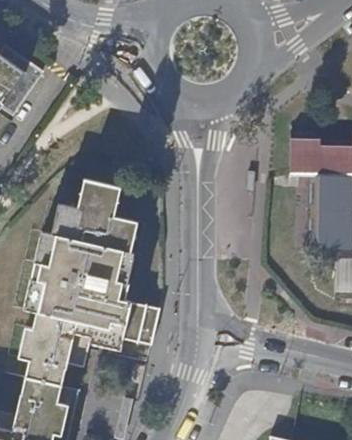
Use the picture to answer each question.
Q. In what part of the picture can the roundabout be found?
top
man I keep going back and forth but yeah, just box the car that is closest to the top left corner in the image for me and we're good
[16,102,32,120]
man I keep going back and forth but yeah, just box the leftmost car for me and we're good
[0,124,16,144]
